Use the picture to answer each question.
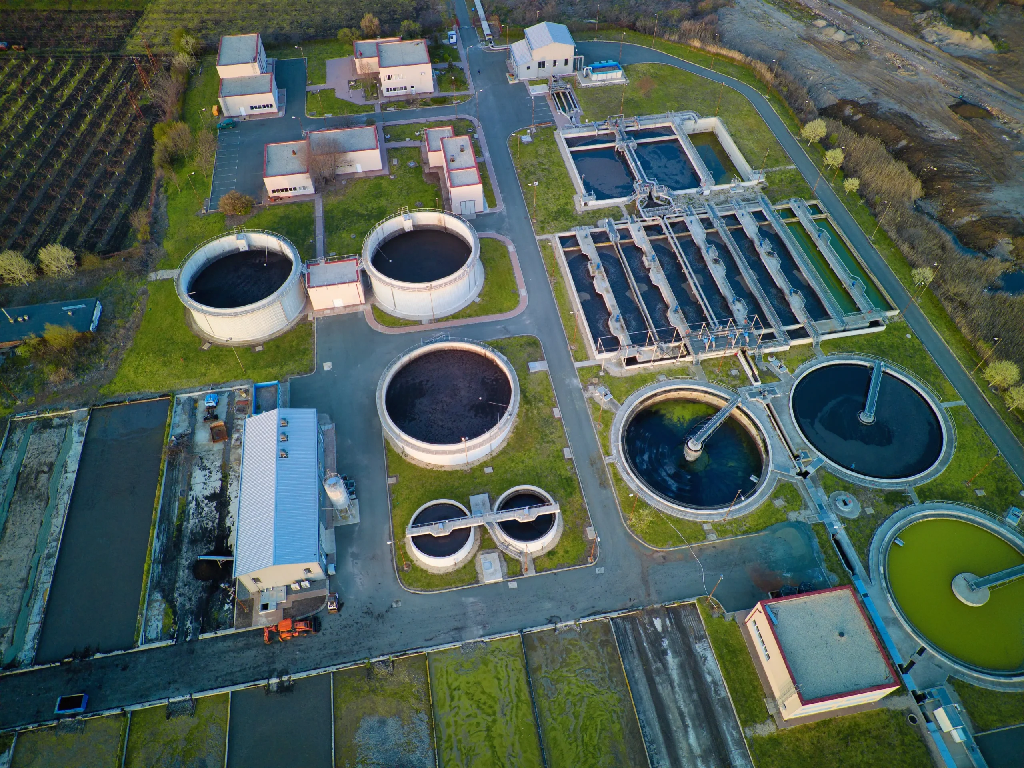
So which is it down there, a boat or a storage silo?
storage silo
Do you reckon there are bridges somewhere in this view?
Yes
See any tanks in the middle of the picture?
Yes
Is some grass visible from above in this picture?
Yes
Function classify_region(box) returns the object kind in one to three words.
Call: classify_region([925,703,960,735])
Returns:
shed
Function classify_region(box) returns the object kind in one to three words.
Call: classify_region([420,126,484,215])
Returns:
building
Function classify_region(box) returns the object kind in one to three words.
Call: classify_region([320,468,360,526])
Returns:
silo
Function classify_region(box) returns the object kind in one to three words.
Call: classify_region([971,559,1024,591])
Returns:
bridge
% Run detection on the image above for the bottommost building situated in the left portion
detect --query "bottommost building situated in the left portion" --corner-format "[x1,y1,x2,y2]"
[193,405,326,591]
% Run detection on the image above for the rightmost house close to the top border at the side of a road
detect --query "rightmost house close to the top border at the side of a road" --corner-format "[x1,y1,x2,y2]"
[509,20,584,79]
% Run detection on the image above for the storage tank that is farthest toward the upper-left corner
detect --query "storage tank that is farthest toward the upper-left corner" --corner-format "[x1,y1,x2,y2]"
[172,222,311,344]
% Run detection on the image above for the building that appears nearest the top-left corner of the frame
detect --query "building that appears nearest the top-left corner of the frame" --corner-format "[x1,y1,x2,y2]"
[216,32,278,116]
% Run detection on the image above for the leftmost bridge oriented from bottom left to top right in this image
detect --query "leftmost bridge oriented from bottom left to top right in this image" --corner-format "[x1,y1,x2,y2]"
[687,393,740,448]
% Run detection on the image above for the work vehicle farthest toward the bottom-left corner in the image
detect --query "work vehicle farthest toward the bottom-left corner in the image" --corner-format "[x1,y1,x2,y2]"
[266,619,319,655]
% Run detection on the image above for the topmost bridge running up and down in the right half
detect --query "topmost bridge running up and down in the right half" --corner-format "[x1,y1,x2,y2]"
[865,355,888,418]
